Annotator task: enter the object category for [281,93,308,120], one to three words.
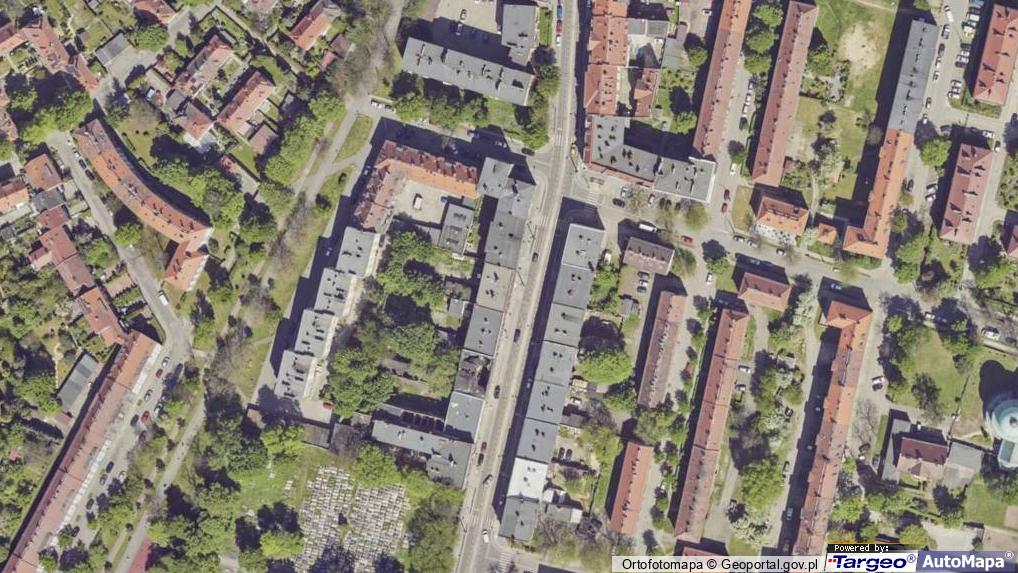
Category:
building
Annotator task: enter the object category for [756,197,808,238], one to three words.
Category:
house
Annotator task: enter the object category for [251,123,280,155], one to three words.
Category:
shed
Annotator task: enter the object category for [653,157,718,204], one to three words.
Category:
building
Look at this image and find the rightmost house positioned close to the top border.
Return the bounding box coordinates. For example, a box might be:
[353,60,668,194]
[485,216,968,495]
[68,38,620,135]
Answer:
[973,3,1018,107]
